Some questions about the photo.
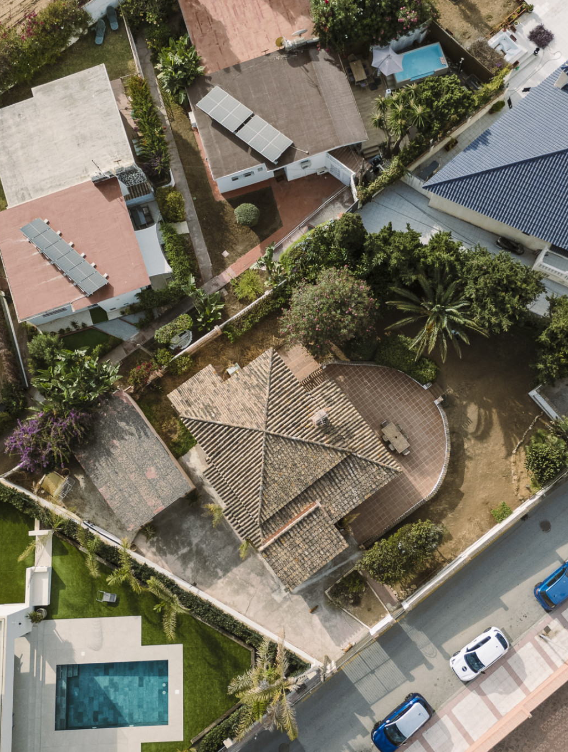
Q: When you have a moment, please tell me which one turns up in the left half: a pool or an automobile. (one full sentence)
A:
You can see a pool in the left half.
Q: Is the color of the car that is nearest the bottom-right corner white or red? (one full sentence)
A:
In this view, the car that is nearest the bottom-right corner is white.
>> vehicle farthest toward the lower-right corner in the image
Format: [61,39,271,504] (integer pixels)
[448,623,512,683]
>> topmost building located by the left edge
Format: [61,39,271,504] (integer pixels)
[0,63,159,327]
